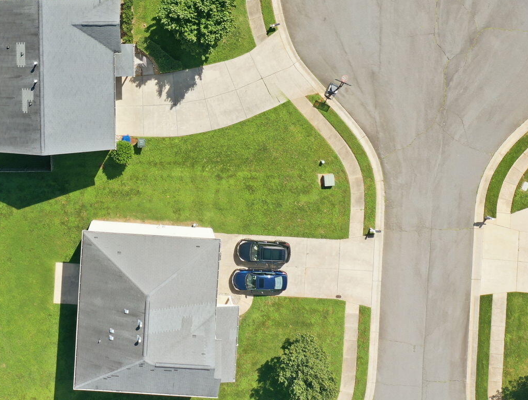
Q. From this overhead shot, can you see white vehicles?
No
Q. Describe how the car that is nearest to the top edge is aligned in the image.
horizontally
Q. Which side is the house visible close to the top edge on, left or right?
left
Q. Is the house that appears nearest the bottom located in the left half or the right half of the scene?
left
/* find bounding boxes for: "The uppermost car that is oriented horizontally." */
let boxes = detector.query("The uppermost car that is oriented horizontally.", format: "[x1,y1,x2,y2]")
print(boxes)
[237,239,294,267]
